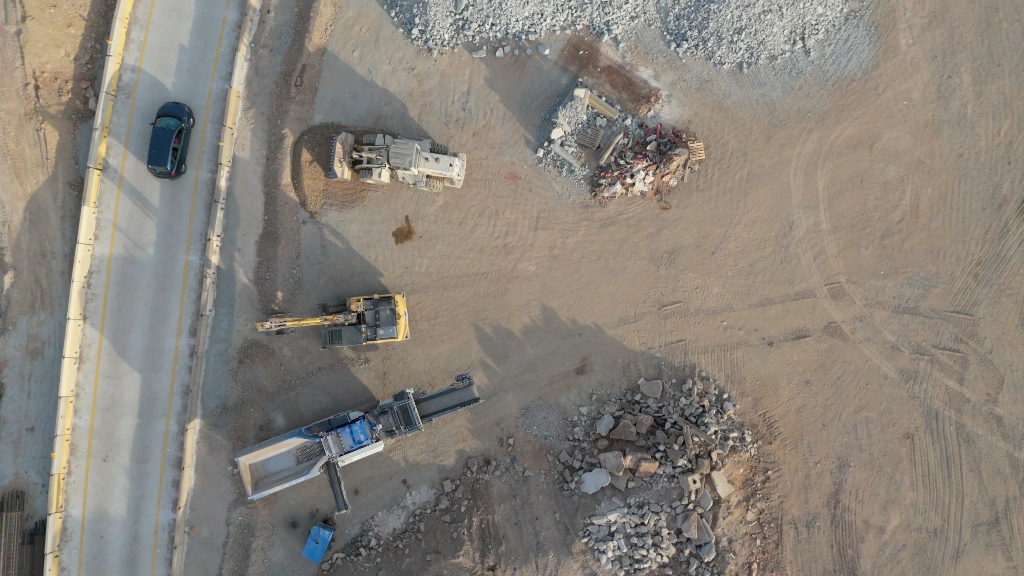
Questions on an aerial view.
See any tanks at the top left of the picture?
No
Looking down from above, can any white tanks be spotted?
No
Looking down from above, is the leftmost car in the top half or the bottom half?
top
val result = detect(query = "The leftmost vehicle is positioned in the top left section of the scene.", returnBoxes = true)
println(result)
[150,101,198,180]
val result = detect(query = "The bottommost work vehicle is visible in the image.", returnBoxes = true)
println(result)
[252,292,411,353]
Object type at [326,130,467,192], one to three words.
work vehicle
